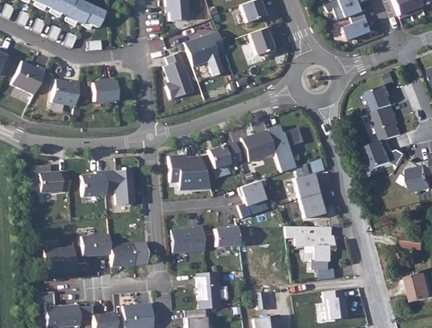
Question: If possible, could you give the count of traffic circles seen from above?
1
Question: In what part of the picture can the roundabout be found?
top right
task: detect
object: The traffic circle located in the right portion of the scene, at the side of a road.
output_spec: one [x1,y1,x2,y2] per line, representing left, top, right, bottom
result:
[286,48,346,112]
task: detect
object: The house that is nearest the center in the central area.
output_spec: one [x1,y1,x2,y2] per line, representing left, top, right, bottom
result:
[209,142,242,178]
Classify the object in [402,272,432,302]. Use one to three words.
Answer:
house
